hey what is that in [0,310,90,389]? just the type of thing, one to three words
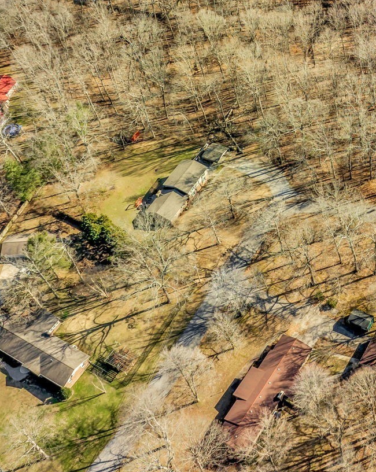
house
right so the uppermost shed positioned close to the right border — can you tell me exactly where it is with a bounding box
[348,311,374,332]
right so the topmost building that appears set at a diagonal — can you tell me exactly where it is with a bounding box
[143,143,227,226]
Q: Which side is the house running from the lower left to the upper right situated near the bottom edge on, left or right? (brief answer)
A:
right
